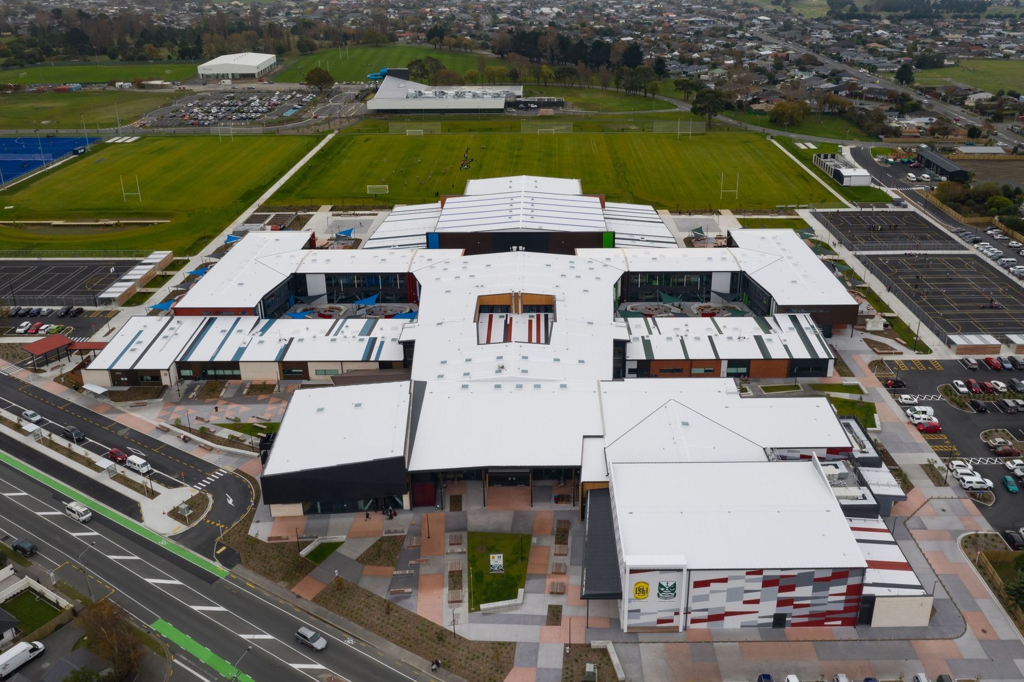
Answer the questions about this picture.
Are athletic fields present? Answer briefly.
Yes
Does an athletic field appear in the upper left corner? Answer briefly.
Yes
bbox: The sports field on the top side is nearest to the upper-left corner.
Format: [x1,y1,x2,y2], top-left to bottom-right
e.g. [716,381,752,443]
[0,134,326,218]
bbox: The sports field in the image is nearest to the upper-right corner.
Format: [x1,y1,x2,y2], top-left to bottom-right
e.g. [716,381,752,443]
[268,132,843,209]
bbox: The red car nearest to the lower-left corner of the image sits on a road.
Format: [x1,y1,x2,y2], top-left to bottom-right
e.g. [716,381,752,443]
[106,446,127,462]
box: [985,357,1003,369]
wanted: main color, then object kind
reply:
red vehicle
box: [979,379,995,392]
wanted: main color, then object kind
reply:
red vehicle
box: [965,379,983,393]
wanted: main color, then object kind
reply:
red car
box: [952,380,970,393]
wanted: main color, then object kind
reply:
white vehicle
